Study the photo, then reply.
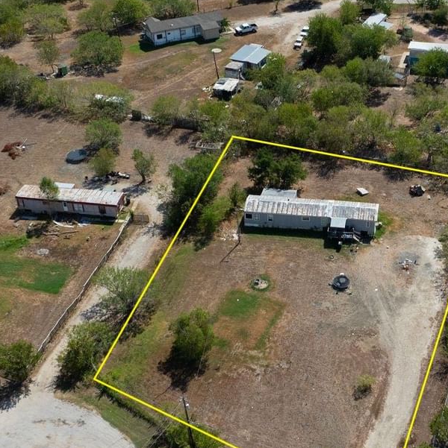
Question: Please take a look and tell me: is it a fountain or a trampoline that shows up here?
trampoline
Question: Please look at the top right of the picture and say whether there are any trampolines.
No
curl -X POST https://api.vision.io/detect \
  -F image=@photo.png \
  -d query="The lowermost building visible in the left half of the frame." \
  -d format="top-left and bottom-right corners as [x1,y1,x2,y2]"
[15,180,126,220]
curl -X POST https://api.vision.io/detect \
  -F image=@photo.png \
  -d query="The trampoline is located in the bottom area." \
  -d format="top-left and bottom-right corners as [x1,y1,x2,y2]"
[332,274,350,290]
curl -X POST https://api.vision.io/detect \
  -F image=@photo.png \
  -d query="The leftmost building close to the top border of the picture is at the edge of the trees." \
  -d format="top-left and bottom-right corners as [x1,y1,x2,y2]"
[144,8,220,46]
